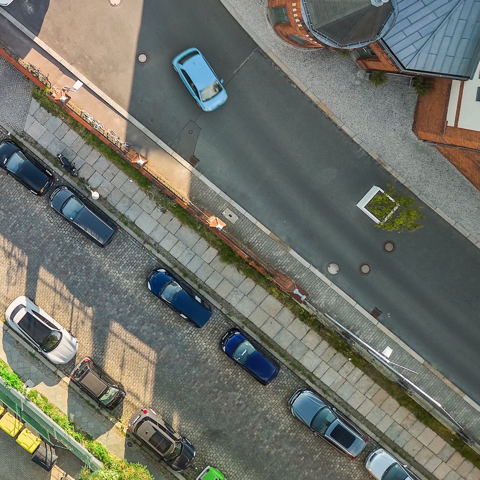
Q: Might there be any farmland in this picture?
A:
No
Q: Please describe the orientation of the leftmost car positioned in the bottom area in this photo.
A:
on a diagonal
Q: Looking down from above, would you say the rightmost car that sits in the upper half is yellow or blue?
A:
blue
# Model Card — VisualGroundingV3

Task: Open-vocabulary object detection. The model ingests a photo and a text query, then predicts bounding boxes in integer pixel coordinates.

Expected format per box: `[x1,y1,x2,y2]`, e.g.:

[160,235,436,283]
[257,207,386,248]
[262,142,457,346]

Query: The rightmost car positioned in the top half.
[175,47,222,110]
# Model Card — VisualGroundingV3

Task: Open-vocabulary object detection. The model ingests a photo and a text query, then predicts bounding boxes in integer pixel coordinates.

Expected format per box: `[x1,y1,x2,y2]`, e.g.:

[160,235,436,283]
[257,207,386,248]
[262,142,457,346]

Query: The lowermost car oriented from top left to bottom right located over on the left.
[129,406,193,469]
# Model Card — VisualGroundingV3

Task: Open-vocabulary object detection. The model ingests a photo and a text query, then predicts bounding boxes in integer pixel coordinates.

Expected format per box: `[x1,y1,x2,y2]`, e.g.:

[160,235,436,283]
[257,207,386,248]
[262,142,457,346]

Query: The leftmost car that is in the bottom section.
[7,297,75,359]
